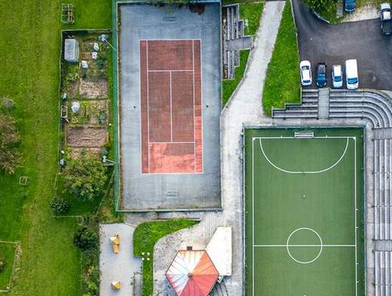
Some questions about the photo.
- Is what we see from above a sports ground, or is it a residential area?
sports ground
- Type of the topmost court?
tennis court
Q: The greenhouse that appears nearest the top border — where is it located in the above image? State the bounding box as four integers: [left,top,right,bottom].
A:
[64,37,78,62]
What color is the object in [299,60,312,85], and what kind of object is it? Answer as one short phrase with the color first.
white vehicle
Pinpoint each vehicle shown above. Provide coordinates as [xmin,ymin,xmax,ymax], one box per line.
[332,63,345,86]
[346,58,360,88]
[381,2,392,35]
[299,60,312,85]
[316,63,328,85]
[344,0,357,11]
